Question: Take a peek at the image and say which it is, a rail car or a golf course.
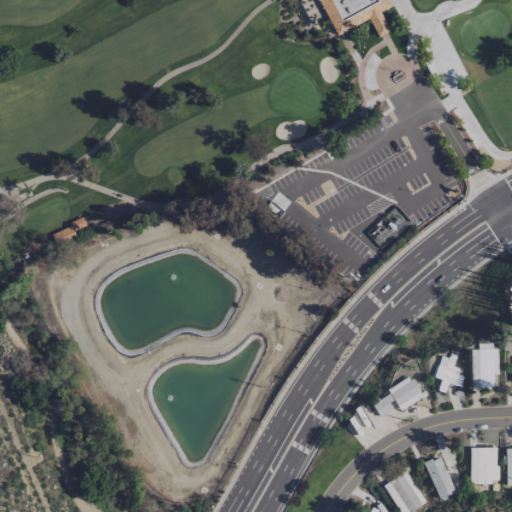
golf course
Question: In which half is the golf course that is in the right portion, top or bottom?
top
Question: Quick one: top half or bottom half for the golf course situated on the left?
top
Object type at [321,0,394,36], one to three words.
building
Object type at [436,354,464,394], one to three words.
house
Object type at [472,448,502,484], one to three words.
house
